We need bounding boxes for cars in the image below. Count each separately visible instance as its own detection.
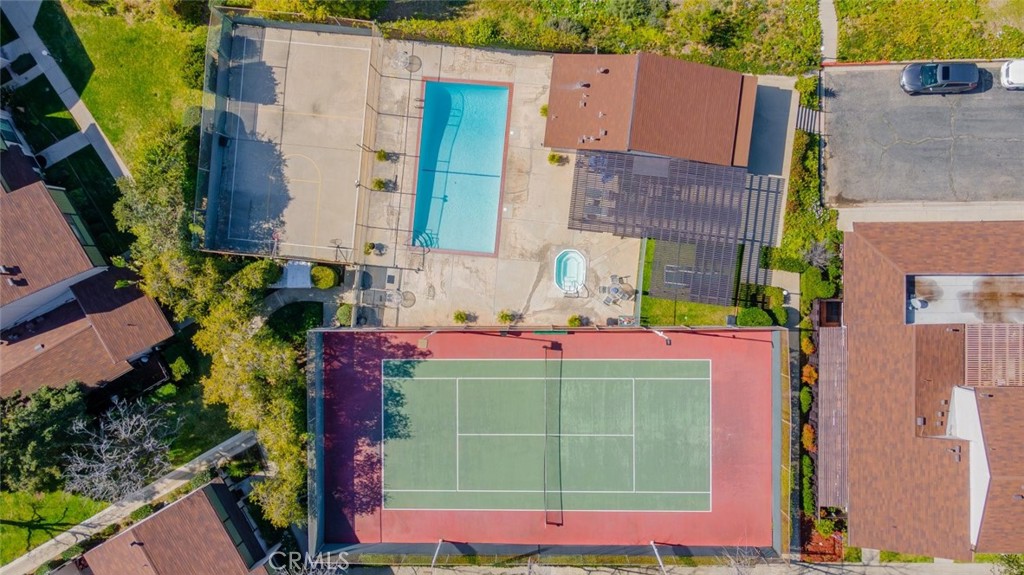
[1002,62,1024,91]
[900,61,977,96]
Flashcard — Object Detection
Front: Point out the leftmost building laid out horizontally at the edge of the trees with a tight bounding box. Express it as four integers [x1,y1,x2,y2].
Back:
[52,478,286,575]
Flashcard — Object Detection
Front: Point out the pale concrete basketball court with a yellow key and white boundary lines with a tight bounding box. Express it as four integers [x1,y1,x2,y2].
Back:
[212,23,383,264]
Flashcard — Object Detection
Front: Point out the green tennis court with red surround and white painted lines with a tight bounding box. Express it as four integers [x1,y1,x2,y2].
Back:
[324,328,772,545]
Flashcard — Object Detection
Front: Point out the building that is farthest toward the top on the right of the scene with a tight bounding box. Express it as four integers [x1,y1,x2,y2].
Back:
[544,53,758,167]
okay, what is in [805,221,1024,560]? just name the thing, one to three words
house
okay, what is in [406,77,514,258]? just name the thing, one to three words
swimming pool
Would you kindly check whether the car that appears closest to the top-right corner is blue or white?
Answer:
white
